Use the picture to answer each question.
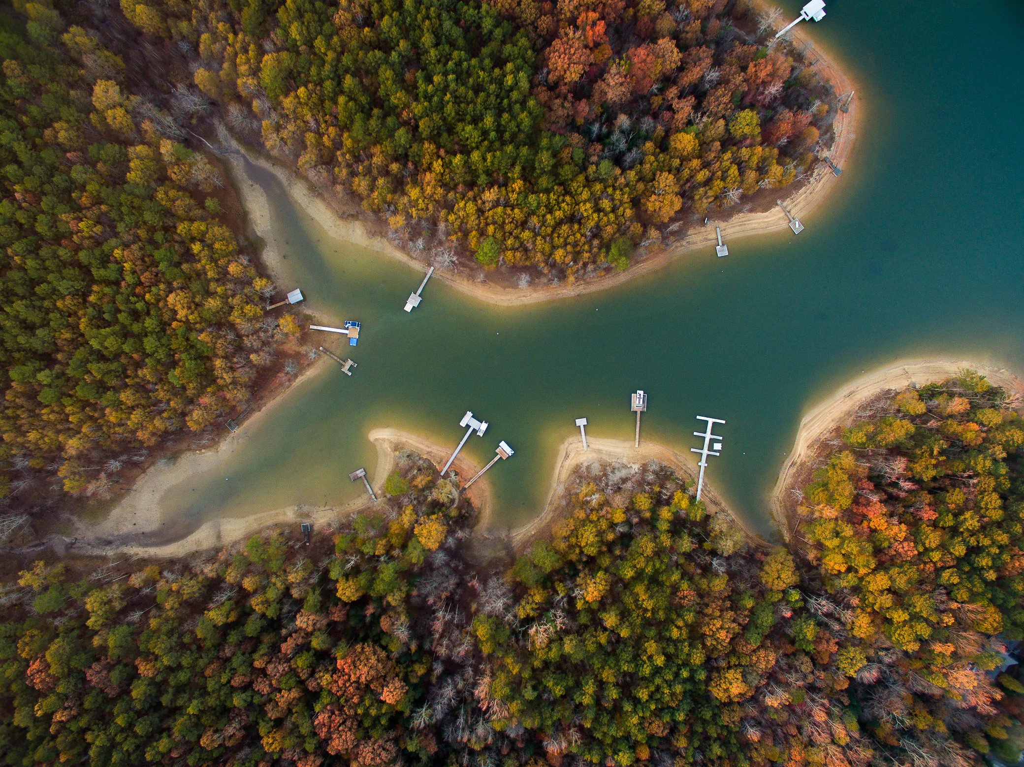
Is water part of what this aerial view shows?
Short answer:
Yes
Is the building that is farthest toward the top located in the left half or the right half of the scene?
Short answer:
right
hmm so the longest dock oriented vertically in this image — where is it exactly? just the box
[690,416,725,504]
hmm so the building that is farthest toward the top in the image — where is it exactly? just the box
[775,0,827,38]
